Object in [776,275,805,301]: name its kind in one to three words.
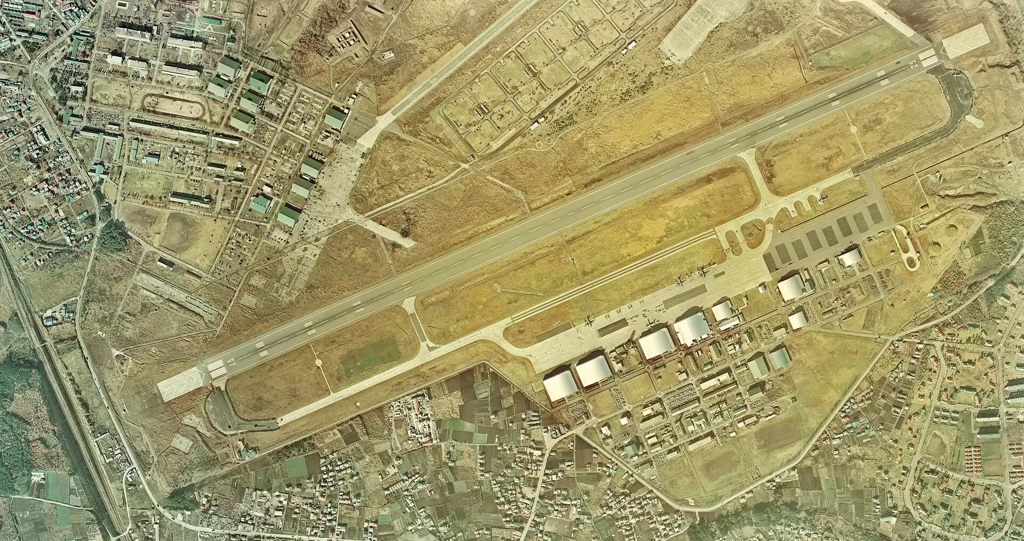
hangar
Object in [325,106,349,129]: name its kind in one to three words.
hangar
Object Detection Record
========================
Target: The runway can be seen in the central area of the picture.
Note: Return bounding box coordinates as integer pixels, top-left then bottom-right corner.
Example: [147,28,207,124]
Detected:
[200,42,947,384]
